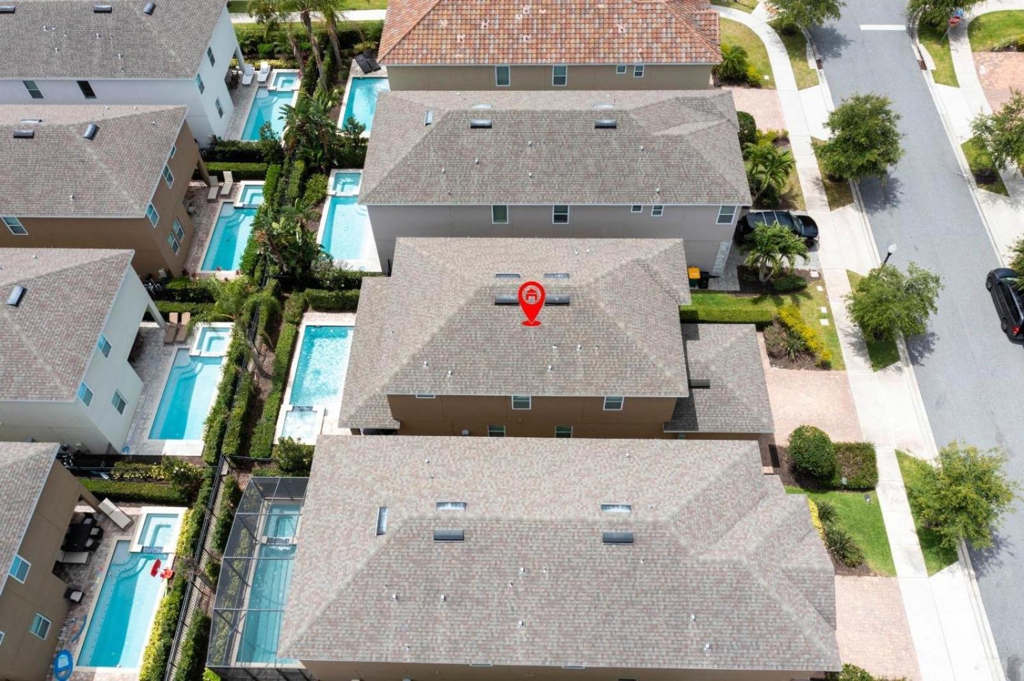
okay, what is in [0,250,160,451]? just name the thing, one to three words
house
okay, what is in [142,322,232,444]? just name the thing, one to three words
swimming pool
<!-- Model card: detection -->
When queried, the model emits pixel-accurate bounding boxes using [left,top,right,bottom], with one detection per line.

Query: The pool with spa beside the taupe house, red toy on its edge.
[71,509,182,675]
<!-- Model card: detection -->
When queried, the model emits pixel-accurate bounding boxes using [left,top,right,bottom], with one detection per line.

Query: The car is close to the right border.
[984,269,1024,338]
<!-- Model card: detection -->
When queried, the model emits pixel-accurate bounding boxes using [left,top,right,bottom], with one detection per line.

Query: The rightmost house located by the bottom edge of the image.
[274,435,846,681]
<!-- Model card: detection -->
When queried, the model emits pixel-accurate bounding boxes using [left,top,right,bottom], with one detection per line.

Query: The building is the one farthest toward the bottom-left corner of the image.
[0,441,97,681]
